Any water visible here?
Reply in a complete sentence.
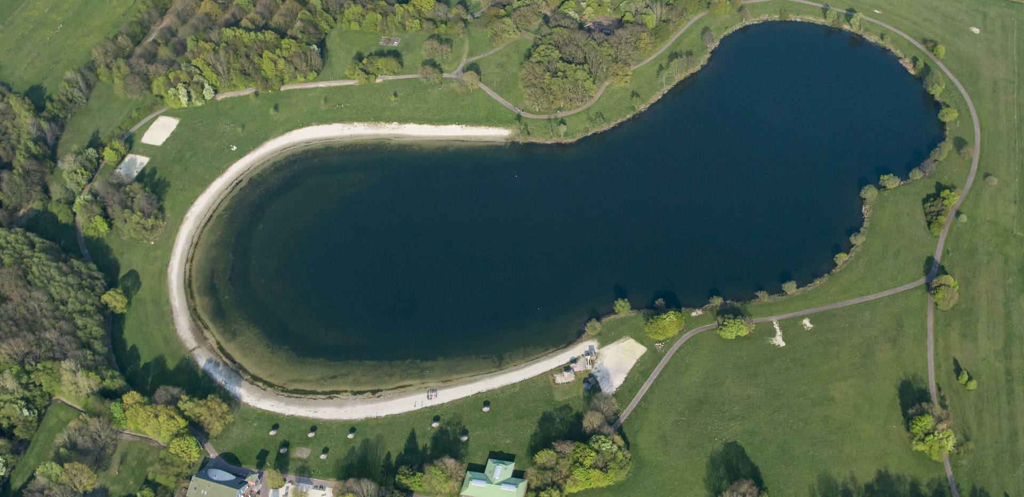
Yes, water can be seen from above here.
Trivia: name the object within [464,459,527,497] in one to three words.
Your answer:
building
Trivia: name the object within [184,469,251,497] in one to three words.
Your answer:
building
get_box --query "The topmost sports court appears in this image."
[141,115,180,145]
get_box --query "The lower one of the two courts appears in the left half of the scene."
[119,153,150,178]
